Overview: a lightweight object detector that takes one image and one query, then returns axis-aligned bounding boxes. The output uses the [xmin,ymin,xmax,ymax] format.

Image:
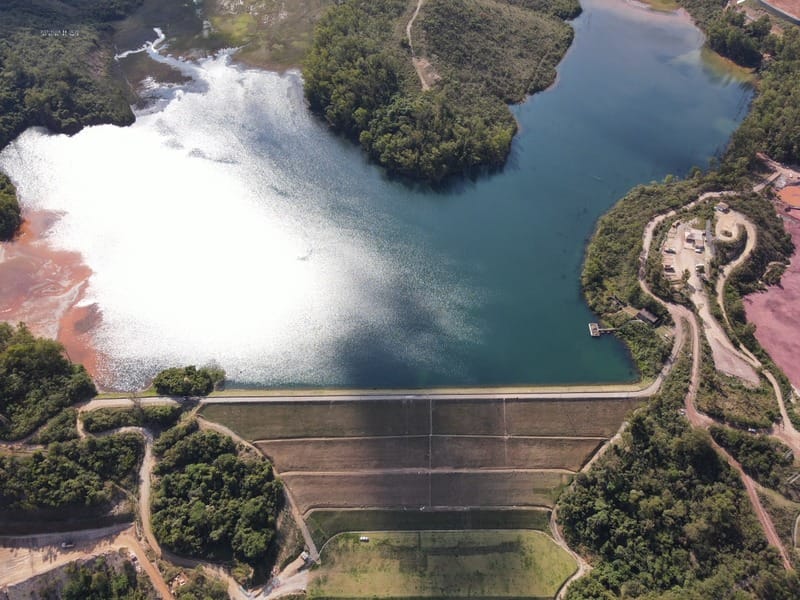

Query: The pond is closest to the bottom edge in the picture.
[747,218,800,397]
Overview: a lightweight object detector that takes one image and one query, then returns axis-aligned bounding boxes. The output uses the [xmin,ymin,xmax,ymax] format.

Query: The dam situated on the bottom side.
[162,384,646,537]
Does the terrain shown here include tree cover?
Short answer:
Yes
